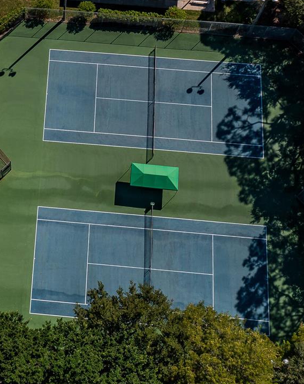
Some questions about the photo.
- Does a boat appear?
No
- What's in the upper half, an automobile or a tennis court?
tennis court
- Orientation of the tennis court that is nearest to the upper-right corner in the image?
horizontally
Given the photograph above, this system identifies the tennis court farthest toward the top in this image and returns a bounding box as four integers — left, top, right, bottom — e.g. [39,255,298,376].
[43,49,263,158]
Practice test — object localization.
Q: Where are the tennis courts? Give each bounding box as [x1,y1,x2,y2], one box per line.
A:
[43,49,263,158]
[31,206,269,329]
